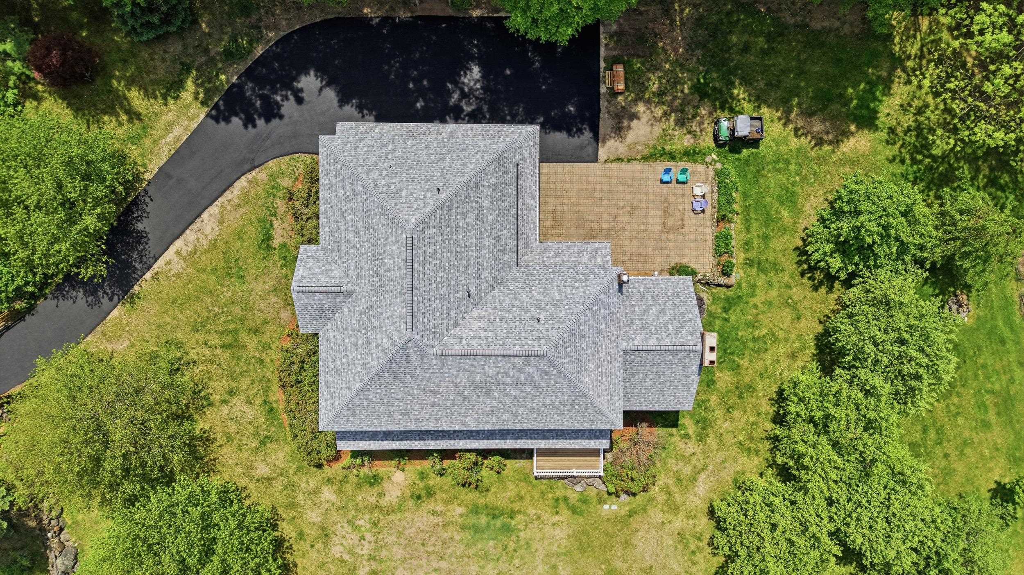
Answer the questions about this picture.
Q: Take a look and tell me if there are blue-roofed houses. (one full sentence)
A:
No, this view has no blue-roofed house in it.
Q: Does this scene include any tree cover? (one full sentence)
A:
Yes, tree cover can be seen from above here.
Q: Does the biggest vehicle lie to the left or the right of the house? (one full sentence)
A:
Compared with the house, the biggest vehicle is located further to the right.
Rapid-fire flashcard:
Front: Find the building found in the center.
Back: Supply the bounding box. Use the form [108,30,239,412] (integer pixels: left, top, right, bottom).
[292,122,715,477]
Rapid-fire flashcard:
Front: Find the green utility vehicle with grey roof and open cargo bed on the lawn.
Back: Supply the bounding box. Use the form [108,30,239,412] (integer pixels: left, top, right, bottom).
[713,116,765,146]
